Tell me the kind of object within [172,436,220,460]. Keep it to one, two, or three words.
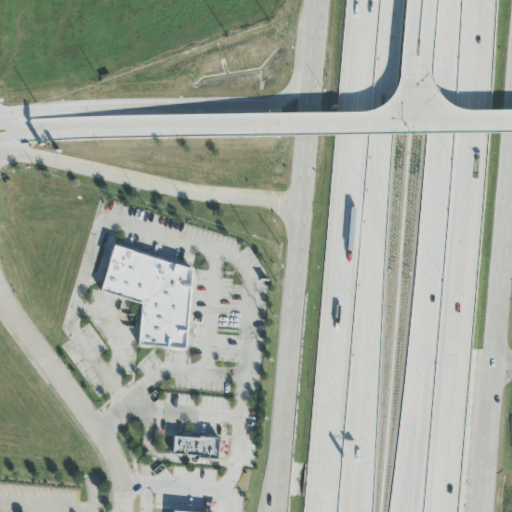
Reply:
building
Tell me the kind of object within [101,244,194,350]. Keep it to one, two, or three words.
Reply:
building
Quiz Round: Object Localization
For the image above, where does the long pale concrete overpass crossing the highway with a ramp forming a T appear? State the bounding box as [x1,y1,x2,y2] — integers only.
[24,0,512,141]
